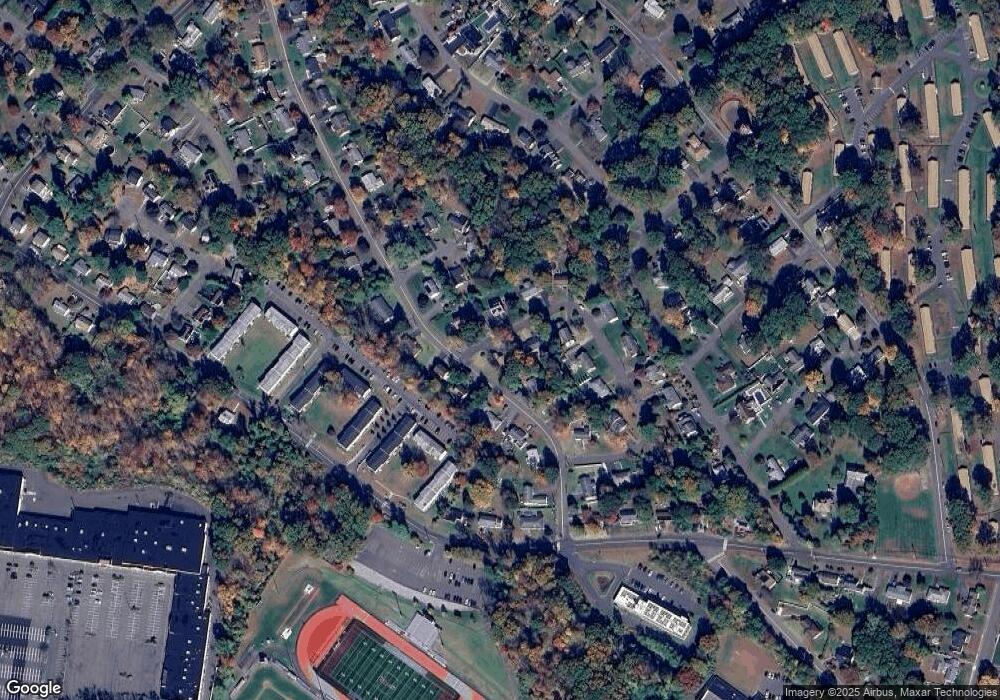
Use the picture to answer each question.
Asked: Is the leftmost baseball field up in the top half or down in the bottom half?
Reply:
bottom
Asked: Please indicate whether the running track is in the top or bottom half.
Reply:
bottom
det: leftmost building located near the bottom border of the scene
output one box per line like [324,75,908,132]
[0,469,211,700]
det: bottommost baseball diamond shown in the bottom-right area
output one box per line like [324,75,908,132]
[714,634,783,692]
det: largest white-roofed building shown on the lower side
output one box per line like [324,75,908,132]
[615,587,694,642]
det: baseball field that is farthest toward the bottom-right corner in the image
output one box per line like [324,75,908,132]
[876,471,939,558]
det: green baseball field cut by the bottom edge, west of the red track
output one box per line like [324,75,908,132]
[240,663,319,700]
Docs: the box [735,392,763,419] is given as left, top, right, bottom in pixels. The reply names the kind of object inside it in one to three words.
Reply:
house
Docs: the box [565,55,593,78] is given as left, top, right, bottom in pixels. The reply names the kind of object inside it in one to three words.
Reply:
house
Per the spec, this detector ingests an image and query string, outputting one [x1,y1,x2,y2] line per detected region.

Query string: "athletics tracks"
[296,592,480,700]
